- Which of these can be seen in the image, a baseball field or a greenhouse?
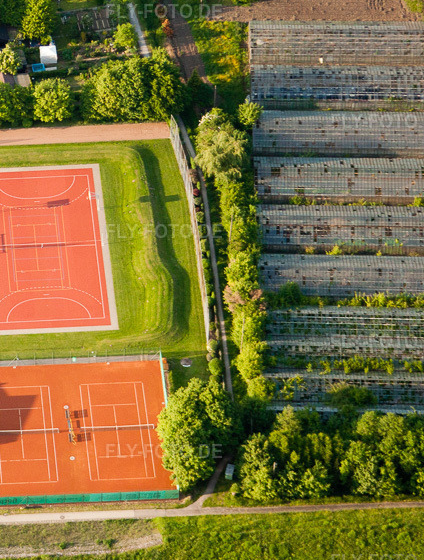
greenhouse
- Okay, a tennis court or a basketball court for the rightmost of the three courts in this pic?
tennis court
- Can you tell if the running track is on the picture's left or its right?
left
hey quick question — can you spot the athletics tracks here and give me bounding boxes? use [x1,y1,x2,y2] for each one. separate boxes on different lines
[0,122,172,144]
